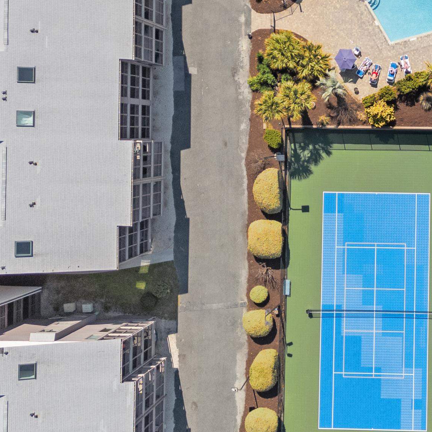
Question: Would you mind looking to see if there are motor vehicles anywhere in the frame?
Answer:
No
